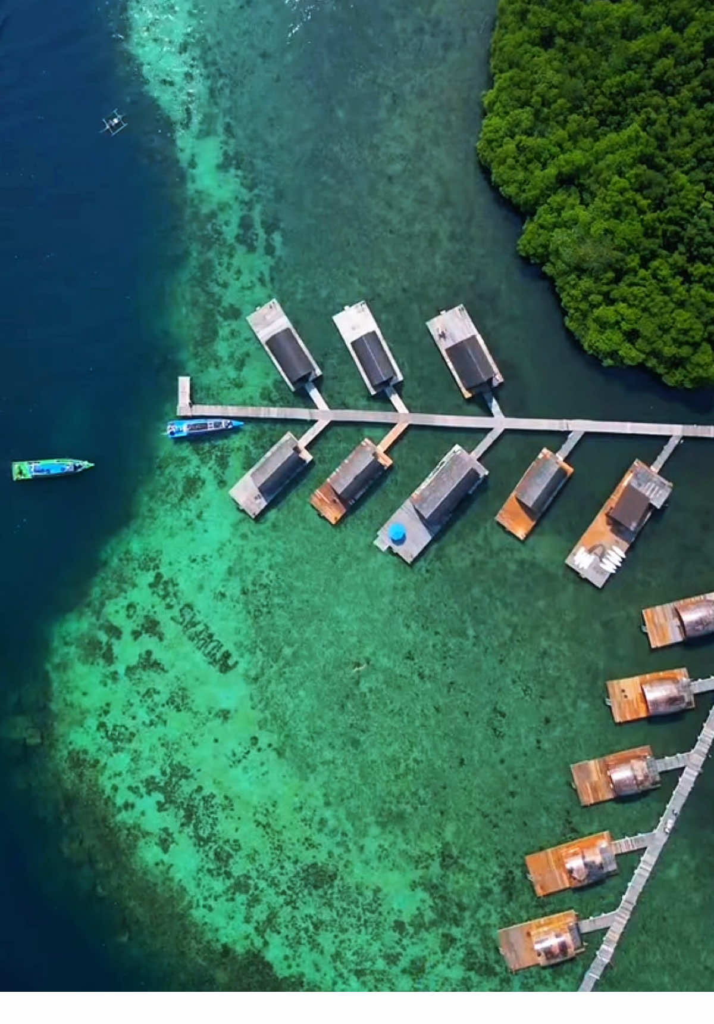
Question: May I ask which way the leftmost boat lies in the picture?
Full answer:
I'd say the leftmost boat is aligned horizontally in the picture.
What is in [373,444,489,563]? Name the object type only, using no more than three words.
building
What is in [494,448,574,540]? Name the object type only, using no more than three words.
building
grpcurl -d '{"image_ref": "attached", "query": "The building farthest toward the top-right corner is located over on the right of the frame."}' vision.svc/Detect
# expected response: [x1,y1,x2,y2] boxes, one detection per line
[426,303,504,401]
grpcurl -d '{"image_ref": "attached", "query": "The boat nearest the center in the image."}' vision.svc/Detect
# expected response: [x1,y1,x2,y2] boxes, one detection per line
[162,419,245,438]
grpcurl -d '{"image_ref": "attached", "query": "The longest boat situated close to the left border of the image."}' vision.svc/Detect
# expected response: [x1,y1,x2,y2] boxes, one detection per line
[10,458,96,481]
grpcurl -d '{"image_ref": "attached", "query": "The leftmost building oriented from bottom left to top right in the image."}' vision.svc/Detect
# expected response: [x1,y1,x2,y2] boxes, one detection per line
[229,432,315,519]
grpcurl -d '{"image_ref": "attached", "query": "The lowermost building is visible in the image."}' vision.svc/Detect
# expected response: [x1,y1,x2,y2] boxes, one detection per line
[500,909,586,972]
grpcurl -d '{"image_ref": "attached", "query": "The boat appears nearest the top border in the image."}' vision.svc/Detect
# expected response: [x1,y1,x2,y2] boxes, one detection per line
[101,108,128,136]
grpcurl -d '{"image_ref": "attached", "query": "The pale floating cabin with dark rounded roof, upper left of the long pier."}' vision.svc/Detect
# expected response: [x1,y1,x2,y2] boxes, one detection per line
[246,298,322,392]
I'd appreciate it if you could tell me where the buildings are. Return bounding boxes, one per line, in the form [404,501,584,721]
[494,448,574,540]
[565,458,675,587]
[640,591,714,649]
[525,830,621,896]
[373,444,489,563]
[500,909,586,972]
[426,303,504,401]
[246,298,322,392]
[604,666,695,724]
[332,301,405,396]
[309,438,393,525]
[229,432,315,519]
[571,745,661,807]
